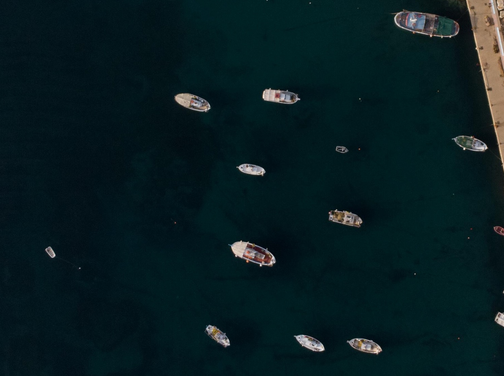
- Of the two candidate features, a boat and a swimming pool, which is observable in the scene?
boat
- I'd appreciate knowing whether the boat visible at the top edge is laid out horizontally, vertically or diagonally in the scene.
horizontally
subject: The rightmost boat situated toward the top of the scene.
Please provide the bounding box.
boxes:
[452,136,487,150]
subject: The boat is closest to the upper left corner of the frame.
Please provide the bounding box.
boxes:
[174,94,210,111]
